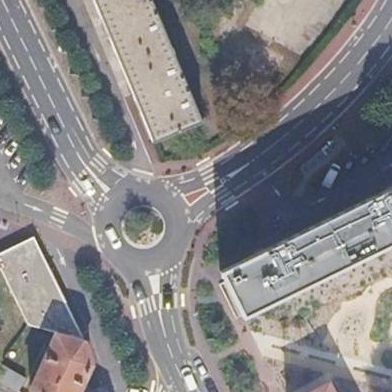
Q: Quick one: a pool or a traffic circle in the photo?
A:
traffic circle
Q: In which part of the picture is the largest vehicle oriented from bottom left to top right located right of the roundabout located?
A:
right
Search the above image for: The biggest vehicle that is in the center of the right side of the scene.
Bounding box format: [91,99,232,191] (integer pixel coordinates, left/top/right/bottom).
[320,162,341,188]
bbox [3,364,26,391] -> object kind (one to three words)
building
